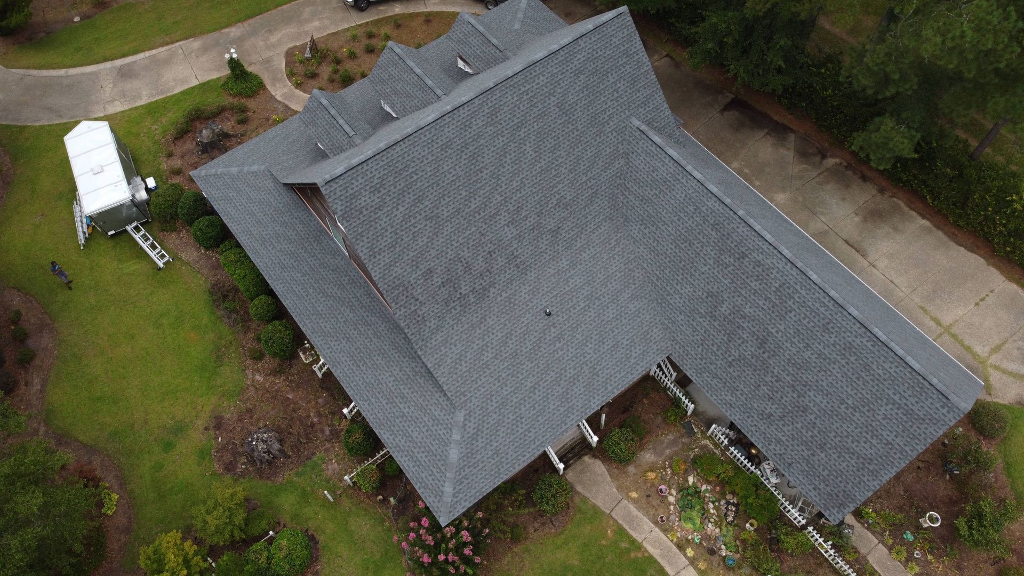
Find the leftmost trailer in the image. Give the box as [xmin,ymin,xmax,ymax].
[63,121,153,241]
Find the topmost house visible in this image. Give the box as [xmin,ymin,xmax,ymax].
[188,0,984,528]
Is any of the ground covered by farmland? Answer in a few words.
No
